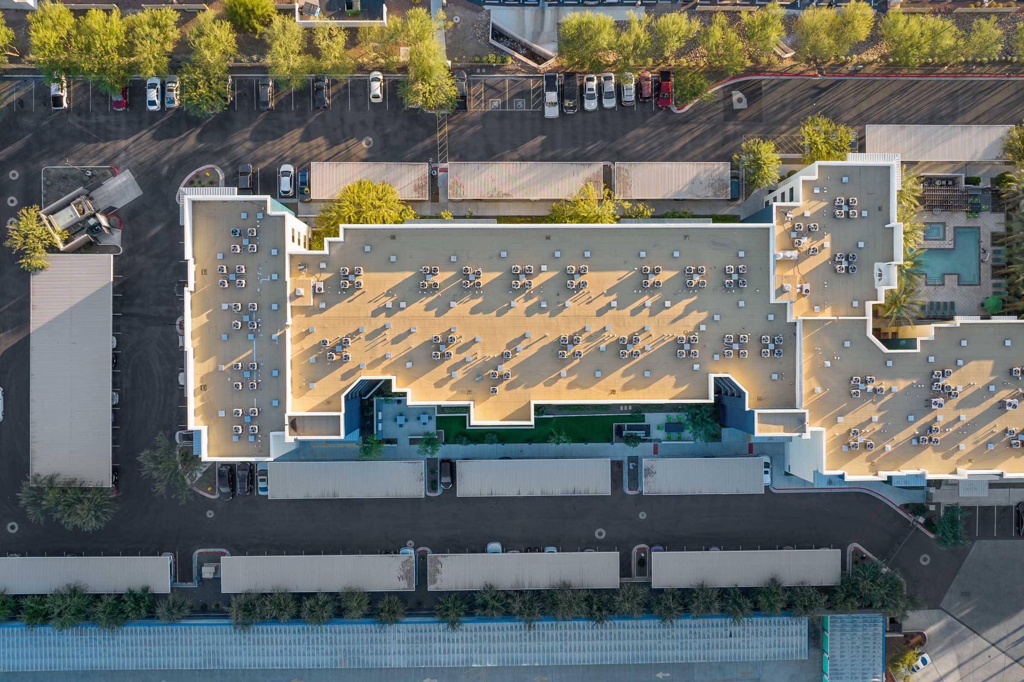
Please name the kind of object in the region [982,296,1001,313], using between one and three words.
umbrella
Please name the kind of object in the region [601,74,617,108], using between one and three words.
car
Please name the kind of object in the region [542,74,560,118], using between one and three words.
vehicle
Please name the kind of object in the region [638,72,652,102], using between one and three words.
car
